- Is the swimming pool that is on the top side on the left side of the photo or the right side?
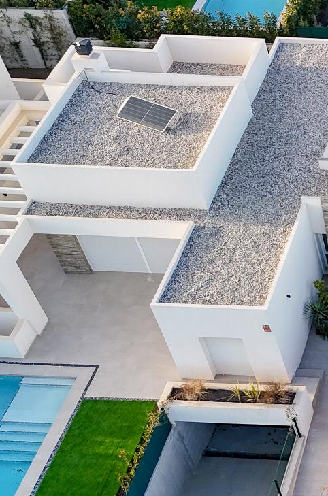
right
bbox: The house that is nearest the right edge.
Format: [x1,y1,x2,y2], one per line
[23,38,328,379]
